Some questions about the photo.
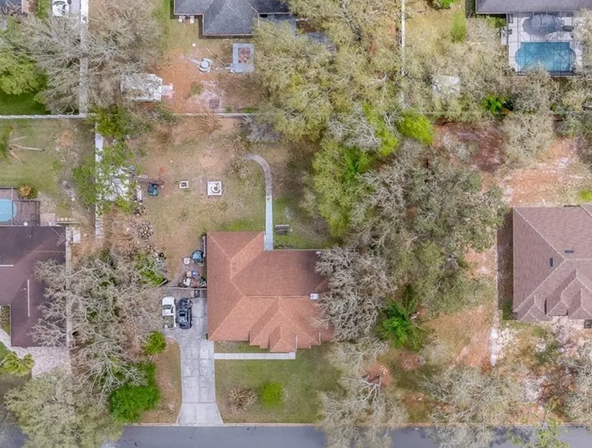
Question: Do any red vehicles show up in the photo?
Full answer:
No, I find no red vehicle anywhere in the image.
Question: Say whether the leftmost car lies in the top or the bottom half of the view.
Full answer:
The leftmost car sits in the top half of the picture.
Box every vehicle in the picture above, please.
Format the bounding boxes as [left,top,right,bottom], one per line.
[161,295,179,328]
[176,296,195,328]
[52,0,73,25]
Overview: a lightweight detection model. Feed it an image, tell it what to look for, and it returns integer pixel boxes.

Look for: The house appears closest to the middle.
[206,230,335,352]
